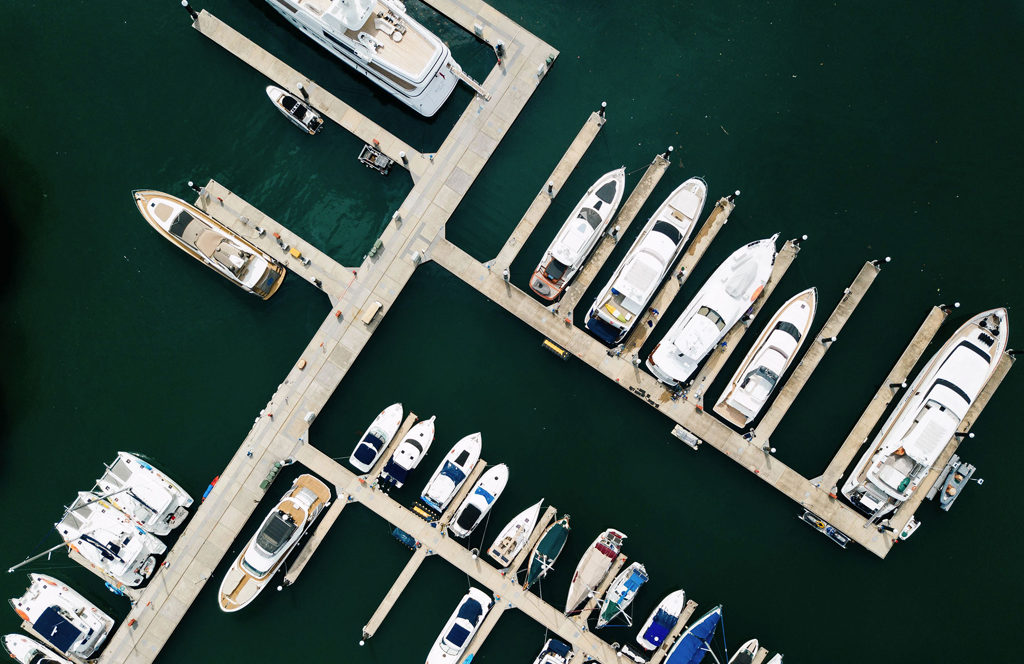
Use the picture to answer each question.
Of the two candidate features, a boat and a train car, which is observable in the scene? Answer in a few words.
boat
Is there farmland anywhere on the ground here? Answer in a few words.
No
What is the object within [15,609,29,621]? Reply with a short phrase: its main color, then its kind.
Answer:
orange boat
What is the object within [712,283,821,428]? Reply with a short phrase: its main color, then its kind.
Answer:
white boat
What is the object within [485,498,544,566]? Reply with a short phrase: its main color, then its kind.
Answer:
white boat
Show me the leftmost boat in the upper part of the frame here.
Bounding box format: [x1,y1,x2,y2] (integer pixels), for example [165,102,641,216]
[129,188,289,302]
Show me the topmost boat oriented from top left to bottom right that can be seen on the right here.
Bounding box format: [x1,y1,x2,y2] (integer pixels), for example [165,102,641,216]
[606,305,626,323]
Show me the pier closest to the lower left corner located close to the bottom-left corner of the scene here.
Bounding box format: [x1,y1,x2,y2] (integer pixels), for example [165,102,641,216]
[20,621,99,664]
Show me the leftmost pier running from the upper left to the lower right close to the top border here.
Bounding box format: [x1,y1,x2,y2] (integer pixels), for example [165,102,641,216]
[192,9,437,185]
